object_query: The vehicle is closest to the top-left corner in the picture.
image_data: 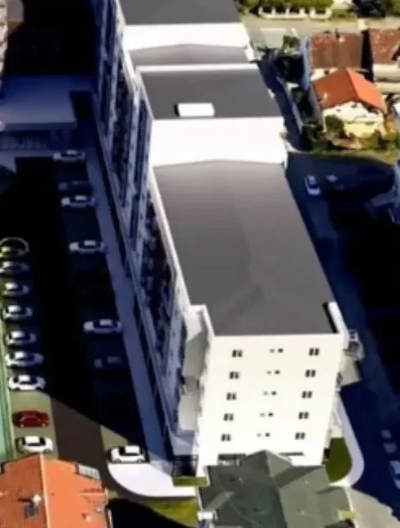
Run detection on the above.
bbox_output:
[53,149,84,161]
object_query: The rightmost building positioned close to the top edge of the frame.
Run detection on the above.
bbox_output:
[360,26,400,92]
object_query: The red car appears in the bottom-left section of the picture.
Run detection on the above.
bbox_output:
[13,409,51,425]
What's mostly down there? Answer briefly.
buildings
